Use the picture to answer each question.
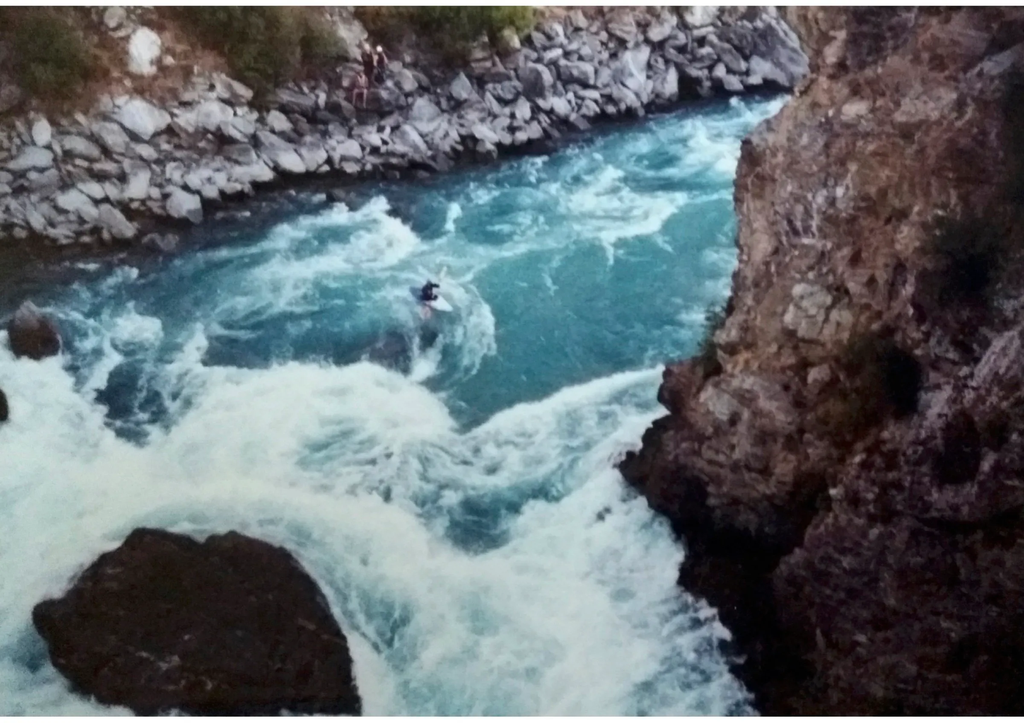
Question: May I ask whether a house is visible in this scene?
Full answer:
No, the picture doesn't show any house.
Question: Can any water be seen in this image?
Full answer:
Yes, water shows up in the scene.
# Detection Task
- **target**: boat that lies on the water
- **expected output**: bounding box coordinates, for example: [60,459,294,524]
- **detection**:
[412,288,455,310]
